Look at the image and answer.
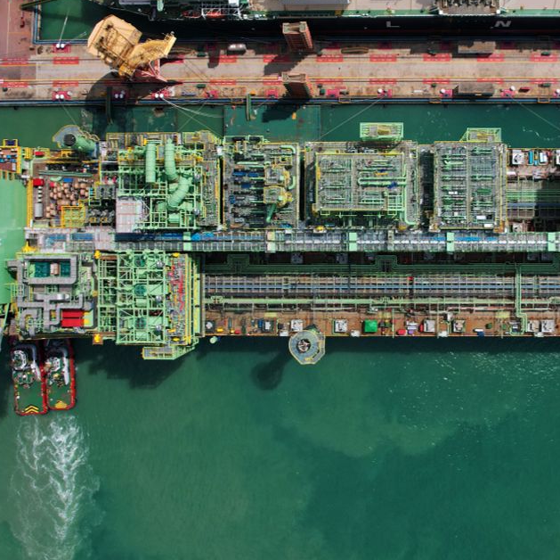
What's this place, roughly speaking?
port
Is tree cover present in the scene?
No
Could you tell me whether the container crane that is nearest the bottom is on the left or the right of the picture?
left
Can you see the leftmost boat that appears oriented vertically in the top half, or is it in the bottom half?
bottom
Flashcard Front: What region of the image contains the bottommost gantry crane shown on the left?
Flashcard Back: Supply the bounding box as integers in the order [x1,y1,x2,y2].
[88,14,177,85]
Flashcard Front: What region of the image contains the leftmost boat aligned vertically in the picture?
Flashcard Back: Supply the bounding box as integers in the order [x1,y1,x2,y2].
[12,338,49,416]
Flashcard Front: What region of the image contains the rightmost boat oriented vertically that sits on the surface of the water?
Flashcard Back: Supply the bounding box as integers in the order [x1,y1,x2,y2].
[43,338,79,411]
